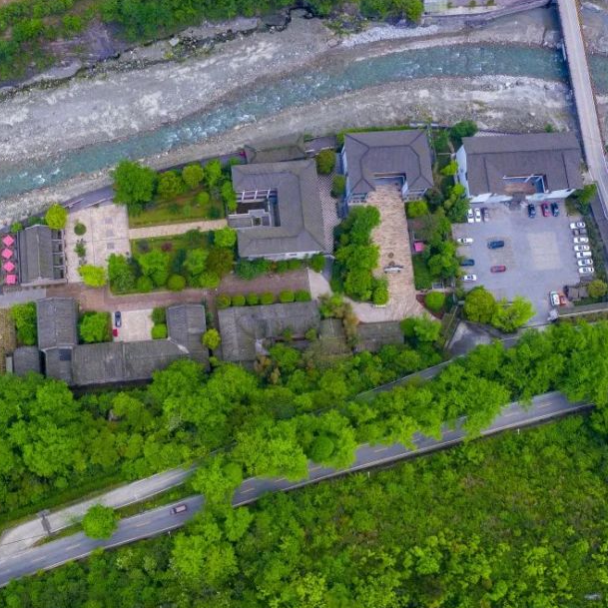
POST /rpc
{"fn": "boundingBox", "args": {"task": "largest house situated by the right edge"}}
[453,132,585,208]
